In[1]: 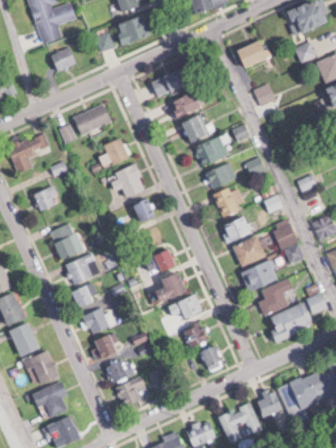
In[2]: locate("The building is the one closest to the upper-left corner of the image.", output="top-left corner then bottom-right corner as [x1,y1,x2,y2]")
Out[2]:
[25,0,78,46]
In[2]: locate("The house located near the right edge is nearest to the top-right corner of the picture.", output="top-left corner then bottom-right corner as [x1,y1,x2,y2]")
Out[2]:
[288,0,331,34]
